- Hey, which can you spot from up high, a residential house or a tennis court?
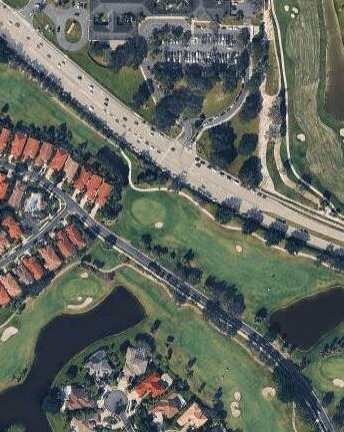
residential house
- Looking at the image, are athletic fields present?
Yes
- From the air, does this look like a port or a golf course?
golf course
